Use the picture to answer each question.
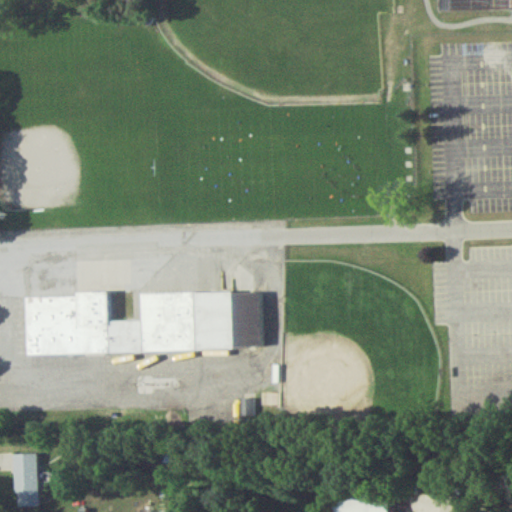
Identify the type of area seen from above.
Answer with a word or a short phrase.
sports ground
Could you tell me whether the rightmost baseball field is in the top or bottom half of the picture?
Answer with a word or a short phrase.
bottom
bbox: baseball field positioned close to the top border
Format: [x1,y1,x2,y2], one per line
[151,0,392,106]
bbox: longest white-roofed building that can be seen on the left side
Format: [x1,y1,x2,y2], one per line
[25,292,266,356]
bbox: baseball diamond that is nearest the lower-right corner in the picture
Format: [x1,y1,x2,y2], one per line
[282,259,442,420]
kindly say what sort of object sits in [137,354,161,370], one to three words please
vehicle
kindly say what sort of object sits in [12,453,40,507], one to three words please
house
